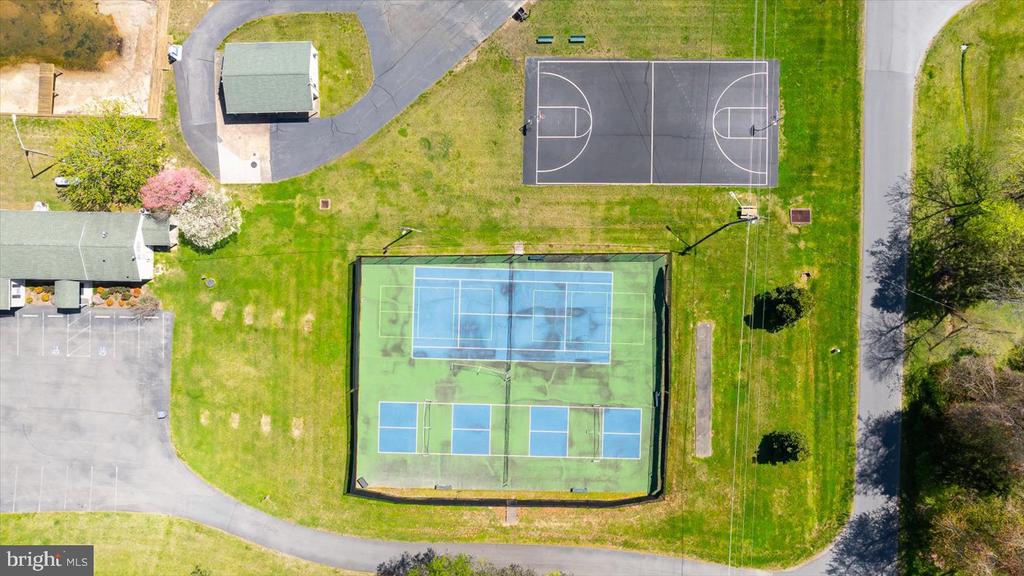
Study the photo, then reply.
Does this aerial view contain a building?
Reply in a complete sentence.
Yes, you can see a building in this photo.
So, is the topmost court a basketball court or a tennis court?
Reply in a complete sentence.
Looking closely, the topmost court is a basketball court.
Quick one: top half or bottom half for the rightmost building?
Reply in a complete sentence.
Seen from above, the rightmost building lies in the top half of the view.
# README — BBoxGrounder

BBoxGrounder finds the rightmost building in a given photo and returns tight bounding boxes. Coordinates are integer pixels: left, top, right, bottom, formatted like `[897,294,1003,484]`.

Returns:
[222,42,323,117]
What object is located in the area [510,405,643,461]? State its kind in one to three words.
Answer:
sports court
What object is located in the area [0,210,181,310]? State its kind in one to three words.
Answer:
house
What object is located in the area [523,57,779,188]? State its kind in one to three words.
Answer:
basketball court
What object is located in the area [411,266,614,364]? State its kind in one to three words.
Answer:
tennis court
